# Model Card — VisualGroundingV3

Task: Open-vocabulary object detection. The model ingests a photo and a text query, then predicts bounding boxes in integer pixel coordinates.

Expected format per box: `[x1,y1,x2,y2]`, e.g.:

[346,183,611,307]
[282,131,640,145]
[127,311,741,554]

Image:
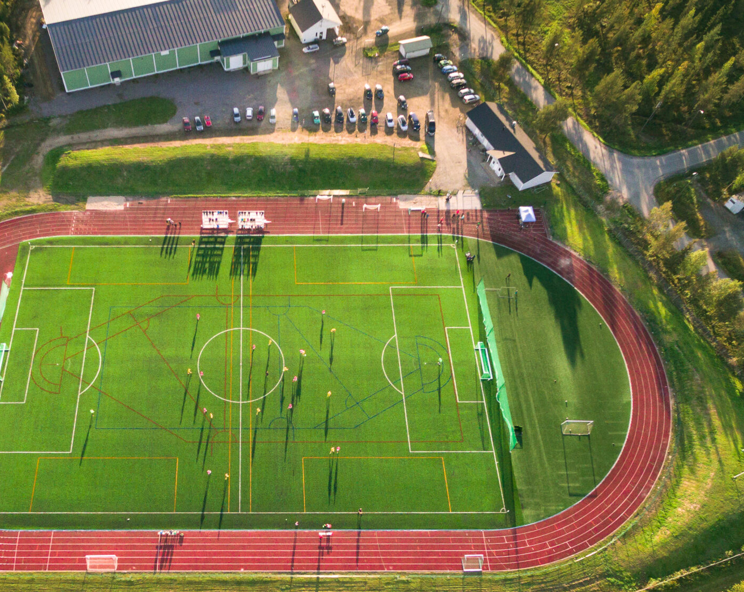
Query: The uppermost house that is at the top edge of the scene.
[290,0,345,43]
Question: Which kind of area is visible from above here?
sports ground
